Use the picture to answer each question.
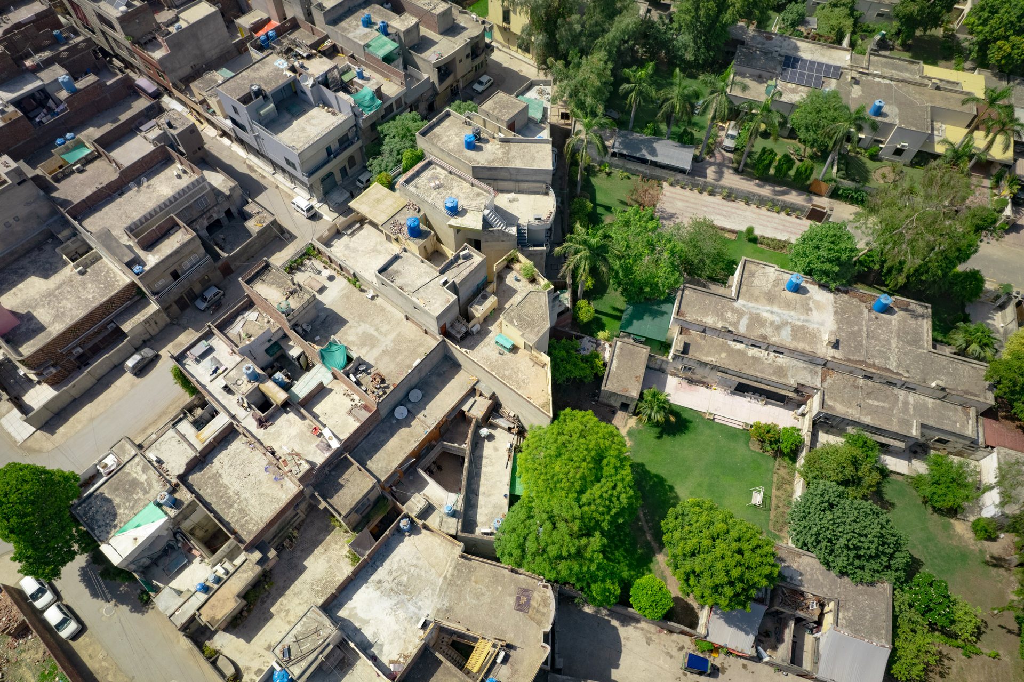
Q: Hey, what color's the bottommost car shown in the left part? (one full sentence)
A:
The bottommost car shown in the left part looks white in the image.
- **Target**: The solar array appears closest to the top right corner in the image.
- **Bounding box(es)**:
[778,56,841,92]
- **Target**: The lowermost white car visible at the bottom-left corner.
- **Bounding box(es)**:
[43,603,83,642]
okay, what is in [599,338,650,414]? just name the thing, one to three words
house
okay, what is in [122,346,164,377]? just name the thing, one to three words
car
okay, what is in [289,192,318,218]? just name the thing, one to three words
vehicle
